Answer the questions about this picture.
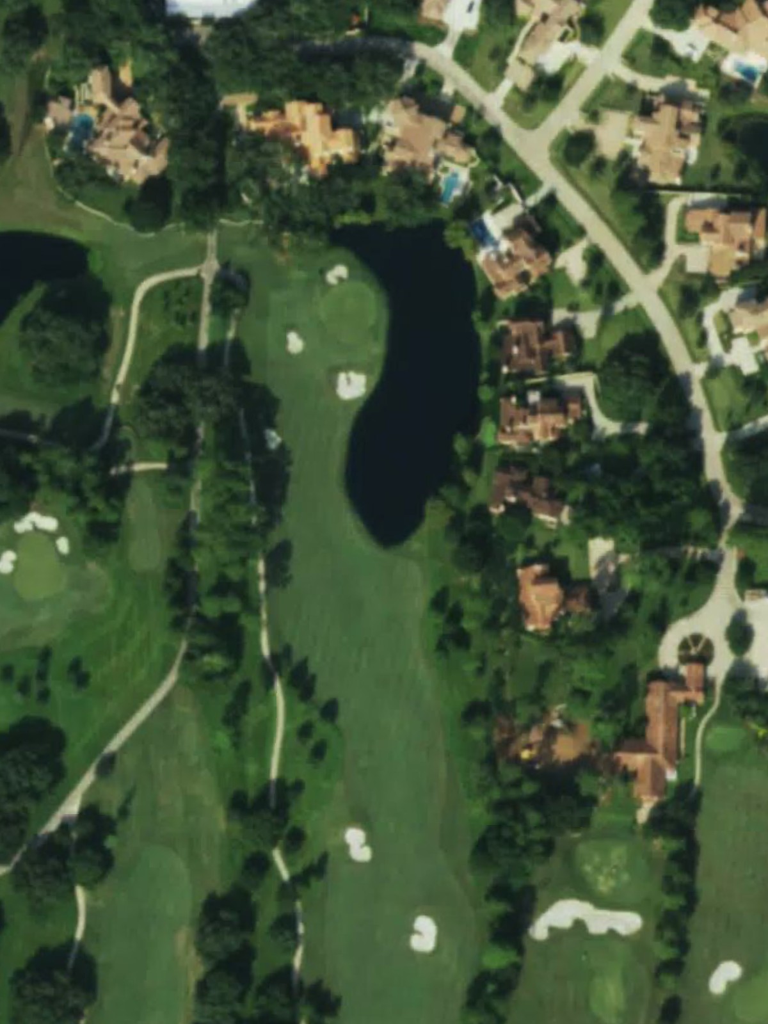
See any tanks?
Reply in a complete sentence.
No, no tank is visible in the view.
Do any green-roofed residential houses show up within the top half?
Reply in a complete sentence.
No, no green-roofed residential house appears within the top half.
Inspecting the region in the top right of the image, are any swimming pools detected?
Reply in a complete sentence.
Yes, a swimming pool can be seen in the top right of the image.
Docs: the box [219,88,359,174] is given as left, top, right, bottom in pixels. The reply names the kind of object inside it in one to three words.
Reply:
house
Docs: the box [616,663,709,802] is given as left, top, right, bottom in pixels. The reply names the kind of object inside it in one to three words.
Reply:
building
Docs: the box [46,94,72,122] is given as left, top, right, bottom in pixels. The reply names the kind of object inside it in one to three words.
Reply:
building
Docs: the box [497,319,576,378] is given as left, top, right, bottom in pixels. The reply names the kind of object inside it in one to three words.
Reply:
house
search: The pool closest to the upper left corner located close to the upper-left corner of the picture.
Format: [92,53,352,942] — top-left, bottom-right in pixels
[63,105,97,155]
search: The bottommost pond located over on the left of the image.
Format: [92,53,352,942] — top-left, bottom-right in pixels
[0,232,89,322]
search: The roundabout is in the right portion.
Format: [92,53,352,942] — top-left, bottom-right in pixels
[677,632,714,666]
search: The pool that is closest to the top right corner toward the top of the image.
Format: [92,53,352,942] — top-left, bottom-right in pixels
[722,55,767,85]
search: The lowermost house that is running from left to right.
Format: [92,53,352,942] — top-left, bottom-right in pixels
[491,714,592,766]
